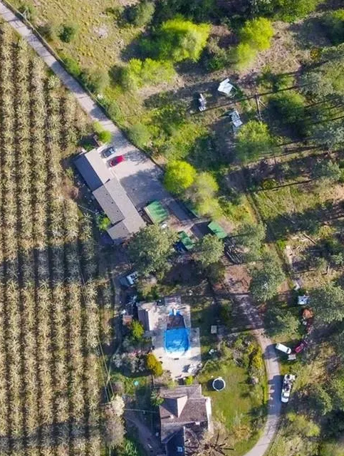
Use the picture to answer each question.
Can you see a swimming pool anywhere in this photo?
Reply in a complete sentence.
Yes, there's a swimming pool down there.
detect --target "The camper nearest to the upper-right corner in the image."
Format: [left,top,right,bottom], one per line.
[218,79,236,96]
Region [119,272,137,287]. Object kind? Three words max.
vehicle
